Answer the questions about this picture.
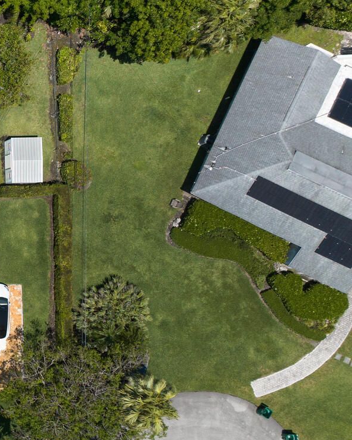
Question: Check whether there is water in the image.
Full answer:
No, there is no water in the image.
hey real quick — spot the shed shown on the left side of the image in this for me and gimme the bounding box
[4,137,46,184]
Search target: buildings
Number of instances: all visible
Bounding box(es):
[4,137,46,184]
[187,36,352,277]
